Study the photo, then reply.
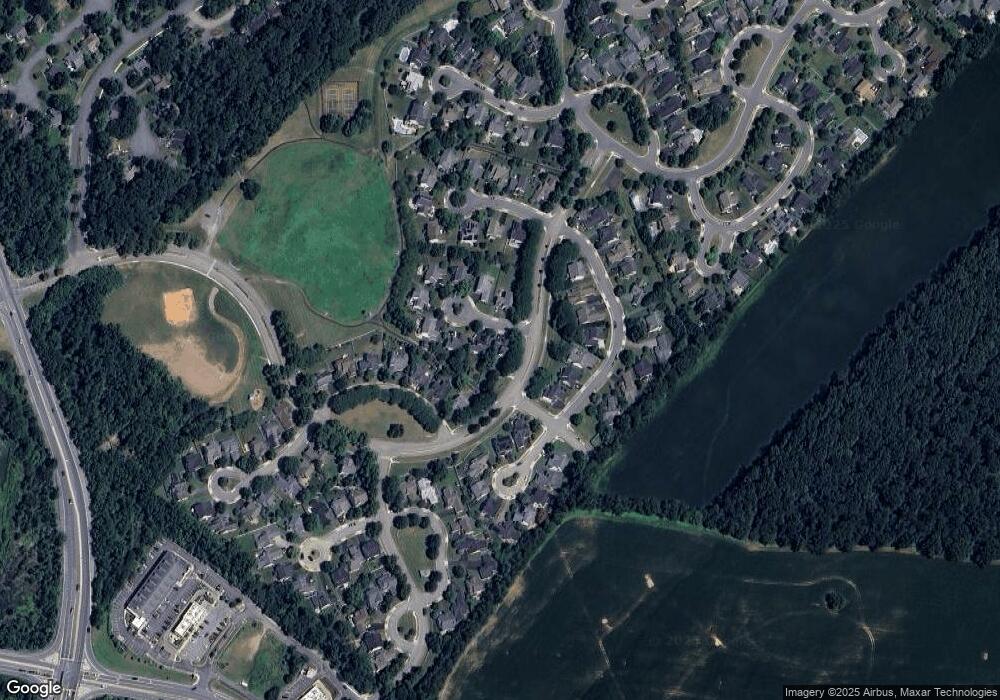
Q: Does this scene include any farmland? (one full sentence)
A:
Yes, farmland shows up in the scene.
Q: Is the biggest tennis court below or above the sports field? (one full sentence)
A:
From this view, the biggest tennis court can be seen above the sports field.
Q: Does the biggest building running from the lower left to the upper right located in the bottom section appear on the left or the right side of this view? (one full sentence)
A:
The biggest building running from the lower left to the upper right located in the bottom section is on the left side of the image.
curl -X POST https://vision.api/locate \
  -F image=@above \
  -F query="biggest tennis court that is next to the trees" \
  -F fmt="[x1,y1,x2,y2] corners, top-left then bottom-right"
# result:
[322,82,357,116]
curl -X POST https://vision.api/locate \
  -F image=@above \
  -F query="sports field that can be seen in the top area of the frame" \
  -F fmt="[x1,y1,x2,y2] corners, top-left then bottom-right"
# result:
[219,142,396,322]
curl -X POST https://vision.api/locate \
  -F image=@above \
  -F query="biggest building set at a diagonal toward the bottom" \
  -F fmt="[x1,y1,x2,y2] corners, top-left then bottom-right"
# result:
[125,550,190,624]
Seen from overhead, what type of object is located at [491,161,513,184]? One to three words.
house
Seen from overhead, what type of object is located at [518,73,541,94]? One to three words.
house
